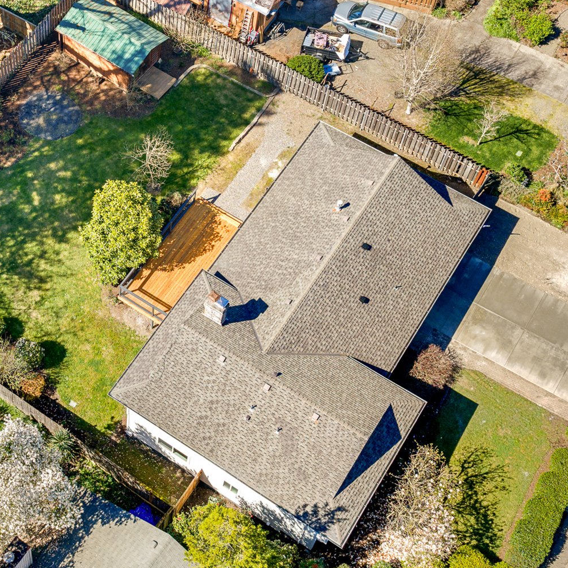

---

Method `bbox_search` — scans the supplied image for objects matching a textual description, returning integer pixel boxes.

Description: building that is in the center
[105,121,496,552]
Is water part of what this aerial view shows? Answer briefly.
No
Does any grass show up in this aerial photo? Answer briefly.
Yes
